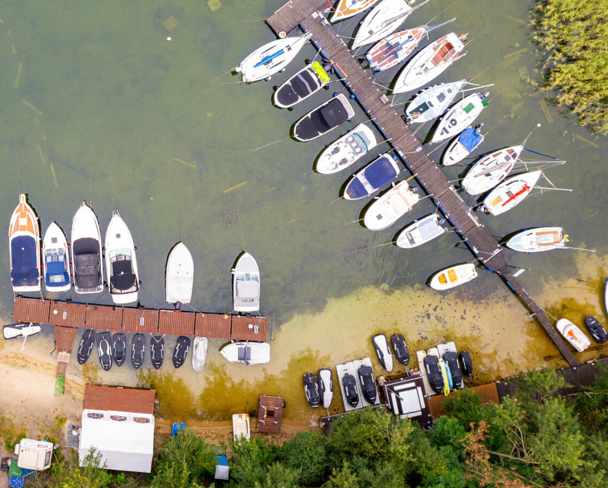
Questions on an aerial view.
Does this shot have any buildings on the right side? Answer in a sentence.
No, I see no building on the right side.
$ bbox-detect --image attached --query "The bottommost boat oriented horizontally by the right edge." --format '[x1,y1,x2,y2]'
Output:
[499,226,598,254]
